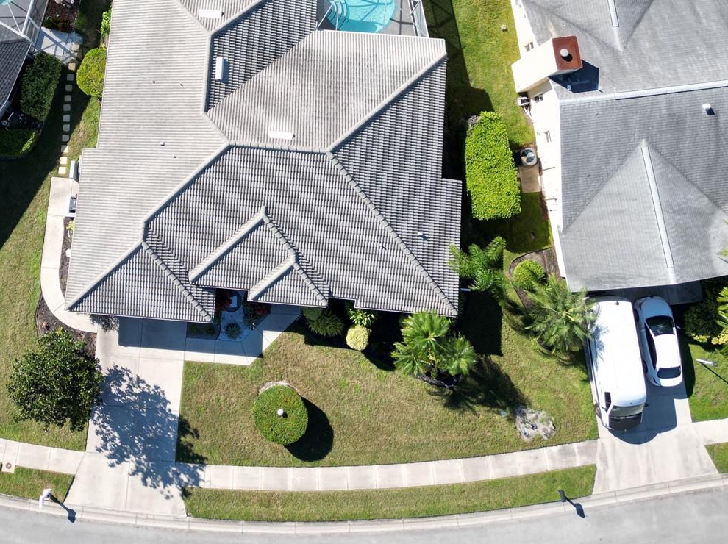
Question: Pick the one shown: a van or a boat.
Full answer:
Looking from above, you can make out a van.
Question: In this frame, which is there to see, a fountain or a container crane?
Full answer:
The one in the frame is a fountain.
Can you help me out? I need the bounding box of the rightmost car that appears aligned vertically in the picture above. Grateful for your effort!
[635,296,686,390]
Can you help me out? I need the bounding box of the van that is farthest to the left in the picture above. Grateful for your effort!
[587,304,649,427]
